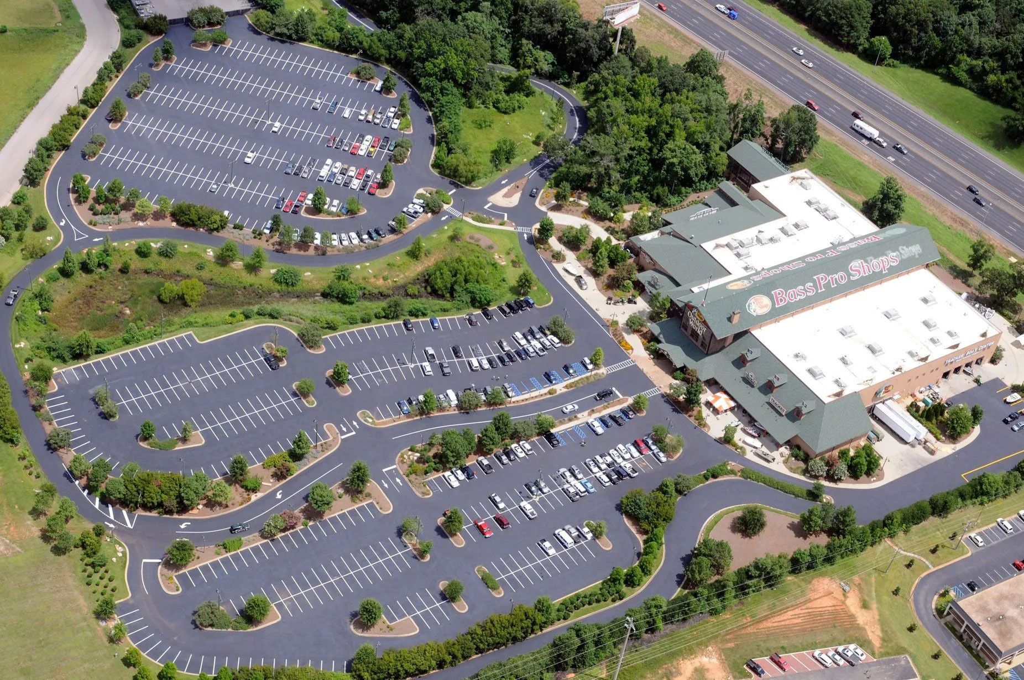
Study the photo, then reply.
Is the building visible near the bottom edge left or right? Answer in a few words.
right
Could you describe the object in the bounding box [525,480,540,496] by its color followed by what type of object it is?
gray car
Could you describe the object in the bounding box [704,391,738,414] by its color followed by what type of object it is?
white tent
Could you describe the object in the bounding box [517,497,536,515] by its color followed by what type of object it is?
white vehicle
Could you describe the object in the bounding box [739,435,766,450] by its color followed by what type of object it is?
white boat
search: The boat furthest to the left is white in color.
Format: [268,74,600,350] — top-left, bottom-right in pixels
[559,260,578,275]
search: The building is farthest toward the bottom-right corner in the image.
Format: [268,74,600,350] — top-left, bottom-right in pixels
[945,571,1024,671]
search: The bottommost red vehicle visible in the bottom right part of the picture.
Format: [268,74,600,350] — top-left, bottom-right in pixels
[769,653,792,672]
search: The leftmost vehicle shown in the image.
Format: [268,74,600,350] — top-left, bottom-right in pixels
[7,288,19,305]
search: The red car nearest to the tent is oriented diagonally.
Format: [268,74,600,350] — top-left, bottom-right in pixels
[634,438,649,455]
